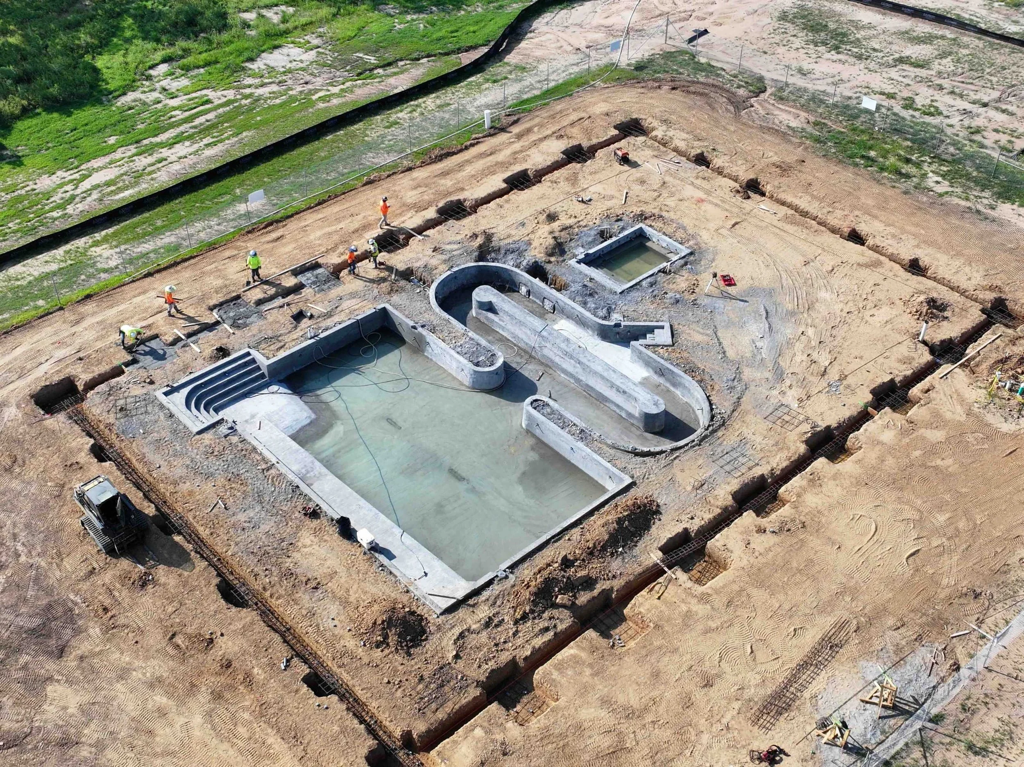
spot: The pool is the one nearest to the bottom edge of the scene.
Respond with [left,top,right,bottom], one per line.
[154,264,709,617]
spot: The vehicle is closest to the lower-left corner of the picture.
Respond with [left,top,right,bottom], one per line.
[72,476,158,572]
